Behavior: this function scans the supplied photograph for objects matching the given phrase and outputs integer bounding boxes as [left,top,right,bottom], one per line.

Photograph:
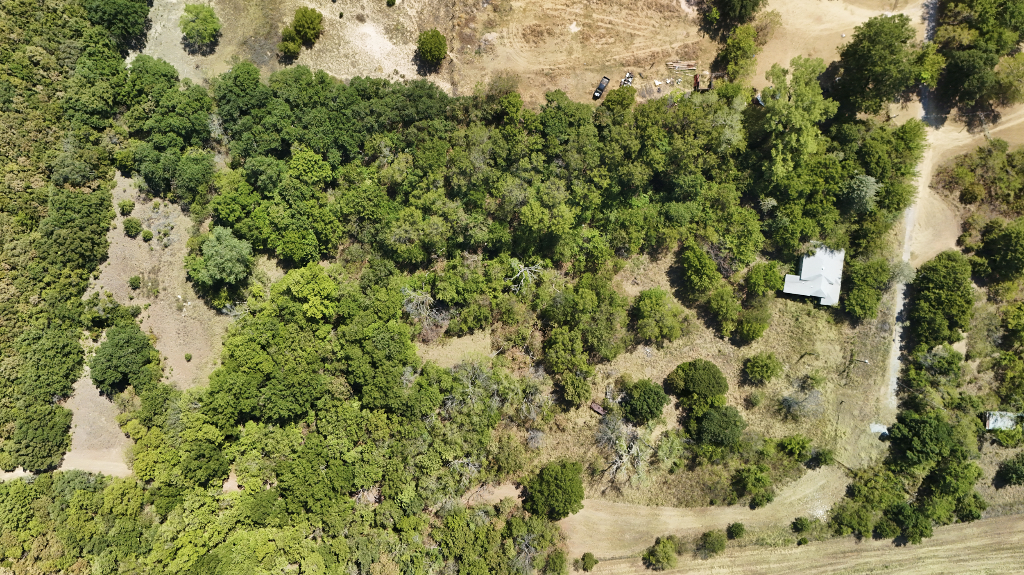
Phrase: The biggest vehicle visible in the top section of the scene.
[593,75,610,99]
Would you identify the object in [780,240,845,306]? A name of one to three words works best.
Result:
house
